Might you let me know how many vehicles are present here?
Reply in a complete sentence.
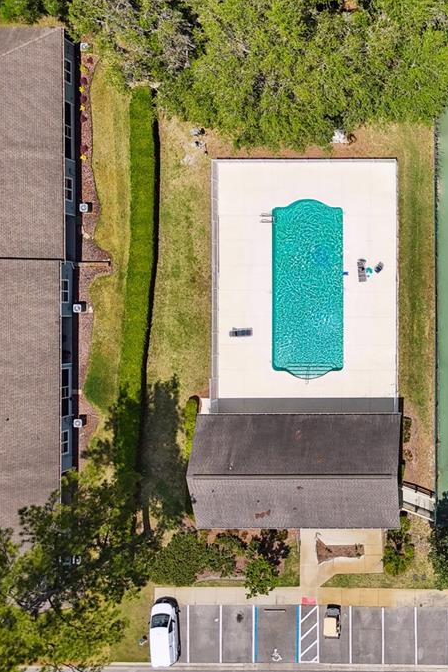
The number of vehicles here is 2.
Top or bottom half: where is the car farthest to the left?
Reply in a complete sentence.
The car farthest to the left sits in the bottom half of the picture.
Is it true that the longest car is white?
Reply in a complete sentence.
Yes, white is the color of the longest car.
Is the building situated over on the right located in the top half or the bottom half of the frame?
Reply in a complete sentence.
The bottom half of the photo is where the building situated over on the right is.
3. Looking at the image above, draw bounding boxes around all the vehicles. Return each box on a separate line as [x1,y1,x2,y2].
[323,603,343,638]
[148,604,180,666]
